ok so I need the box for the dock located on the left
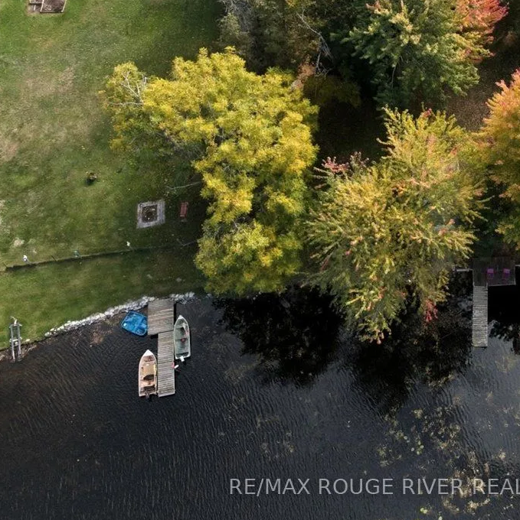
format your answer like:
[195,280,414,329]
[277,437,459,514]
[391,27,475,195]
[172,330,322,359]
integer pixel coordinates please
[147,298,178,398]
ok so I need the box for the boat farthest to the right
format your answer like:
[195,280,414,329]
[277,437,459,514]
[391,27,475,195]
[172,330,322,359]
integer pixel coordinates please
[175,313,191,367]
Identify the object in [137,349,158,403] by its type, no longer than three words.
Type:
boat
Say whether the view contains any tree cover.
Yes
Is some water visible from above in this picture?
Yes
